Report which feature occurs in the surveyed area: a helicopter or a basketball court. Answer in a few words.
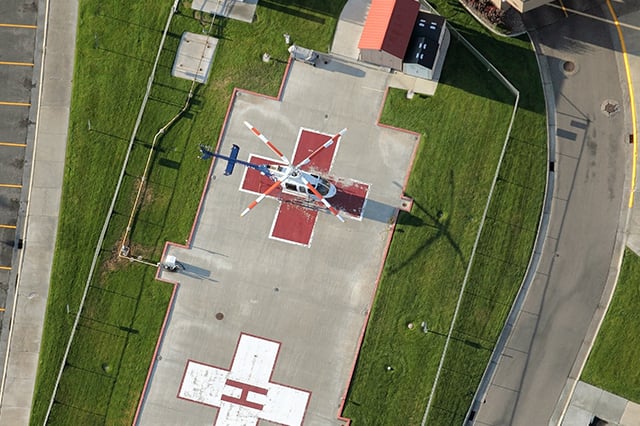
helicopter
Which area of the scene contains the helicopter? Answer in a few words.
center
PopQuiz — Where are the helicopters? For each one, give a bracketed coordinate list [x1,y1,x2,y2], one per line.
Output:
[198,123,346,224]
